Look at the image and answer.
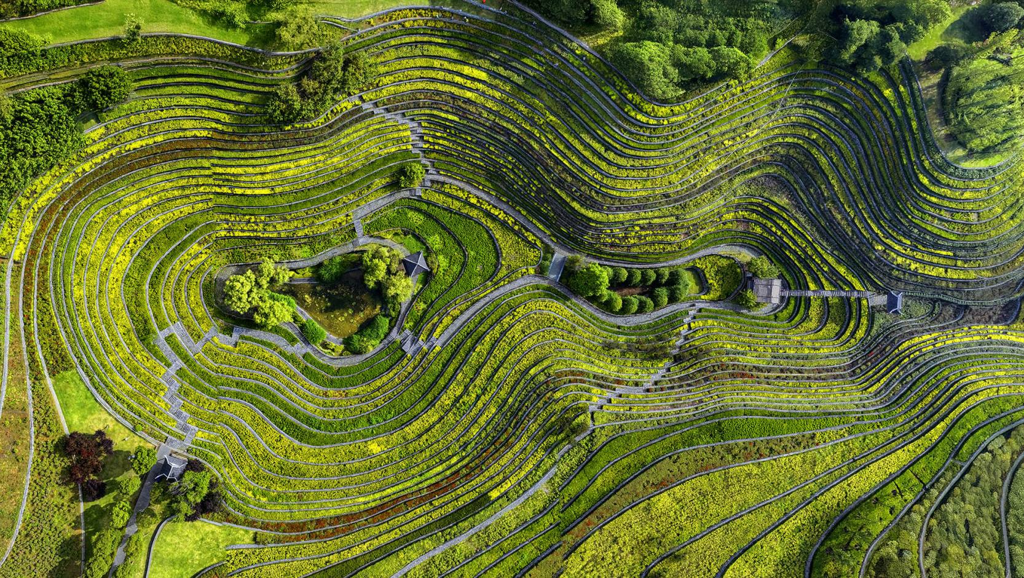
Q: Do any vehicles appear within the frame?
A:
No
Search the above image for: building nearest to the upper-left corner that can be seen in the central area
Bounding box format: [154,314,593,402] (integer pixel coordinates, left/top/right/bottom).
[402,251,430,279]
